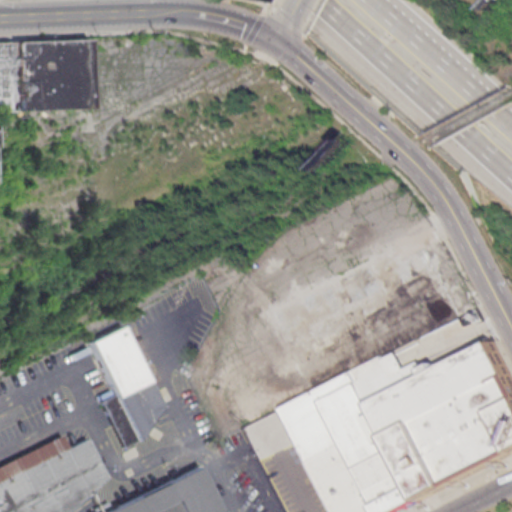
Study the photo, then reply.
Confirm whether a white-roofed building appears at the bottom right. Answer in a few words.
Yes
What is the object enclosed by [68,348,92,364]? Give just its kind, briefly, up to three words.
vehicle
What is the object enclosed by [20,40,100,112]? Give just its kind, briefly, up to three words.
building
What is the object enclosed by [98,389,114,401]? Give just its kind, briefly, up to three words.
vehicle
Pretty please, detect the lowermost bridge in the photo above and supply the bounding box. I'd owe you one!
[415,86,512,150]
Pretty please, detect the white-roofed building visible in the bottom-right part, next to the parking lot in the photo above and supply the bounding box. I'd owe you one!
[244,318,512,512]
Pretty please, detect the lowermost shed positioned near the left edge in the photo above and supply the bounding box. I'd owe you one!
[0,436,116,512]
